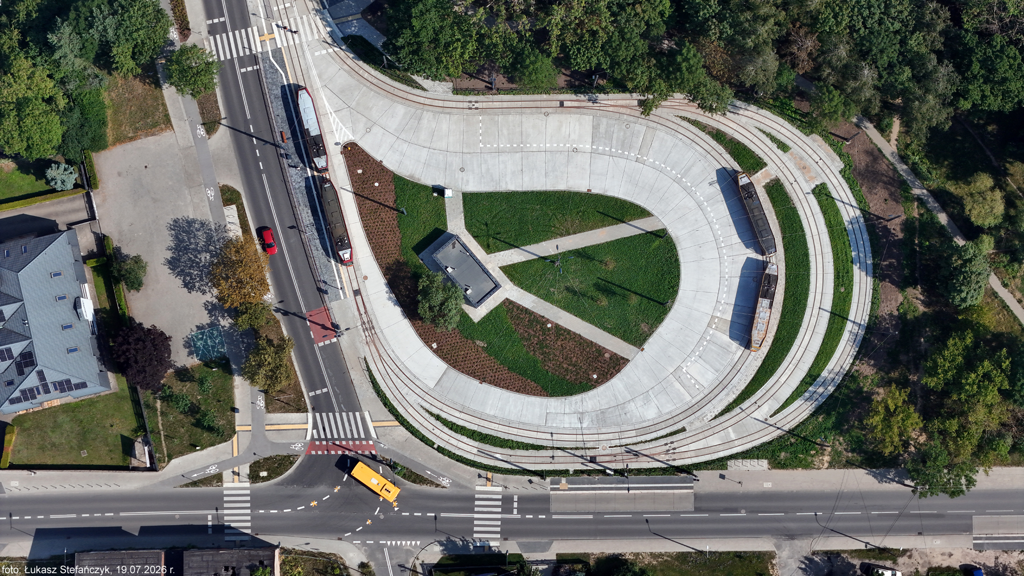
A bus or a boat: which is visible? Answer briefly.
bus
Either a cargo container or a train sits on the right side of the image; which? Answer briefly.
train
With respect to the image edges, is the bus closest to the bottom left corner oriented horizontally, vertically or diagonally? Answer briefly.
diagonally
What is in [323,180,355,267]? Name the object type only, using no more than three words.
train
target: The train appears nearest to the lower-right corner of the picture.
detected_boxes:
[747,262,777,350]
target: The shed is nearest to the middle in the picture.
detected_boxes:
[433,235,501,307]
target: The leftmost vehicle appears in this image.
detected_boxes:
[260,229,276,254]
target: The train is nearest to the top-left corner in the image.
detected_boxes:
[299,89,329,176]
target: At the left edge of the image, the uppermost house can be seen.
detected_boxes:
[0,228,112,414]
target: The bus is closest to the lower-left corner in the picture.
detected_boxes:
[353,462,402,503]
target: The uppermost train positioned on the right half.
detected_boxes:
[736,174,776,259]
